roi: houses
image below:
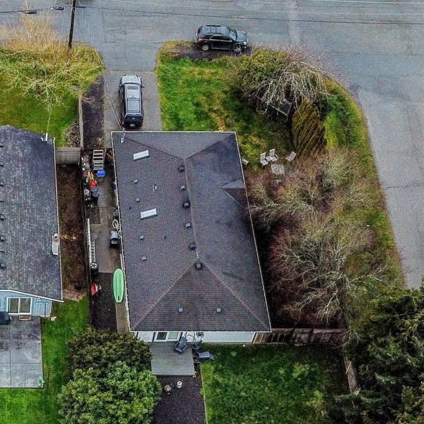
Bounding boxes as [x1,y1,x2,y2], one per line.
[112,129,271,348]
[0,128,63,321]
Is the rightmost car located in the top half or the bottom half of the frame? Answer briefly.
top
